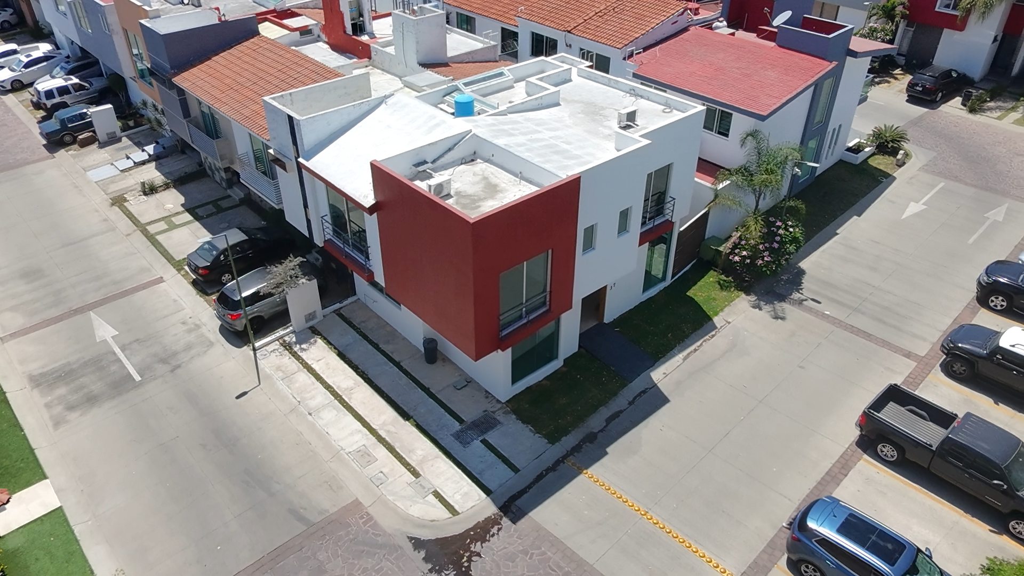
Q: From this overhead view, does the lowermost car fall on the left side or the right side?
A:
right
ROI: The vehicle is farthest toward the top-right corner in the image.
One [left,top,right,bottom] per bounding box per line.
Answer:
[909,65,960,103]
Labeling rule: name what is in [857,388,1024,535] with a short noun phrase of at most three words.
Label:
truck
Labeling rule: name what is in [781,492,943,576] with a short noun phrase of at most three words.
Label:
car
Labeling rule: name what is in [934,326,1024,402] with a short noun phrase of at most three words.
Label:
car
